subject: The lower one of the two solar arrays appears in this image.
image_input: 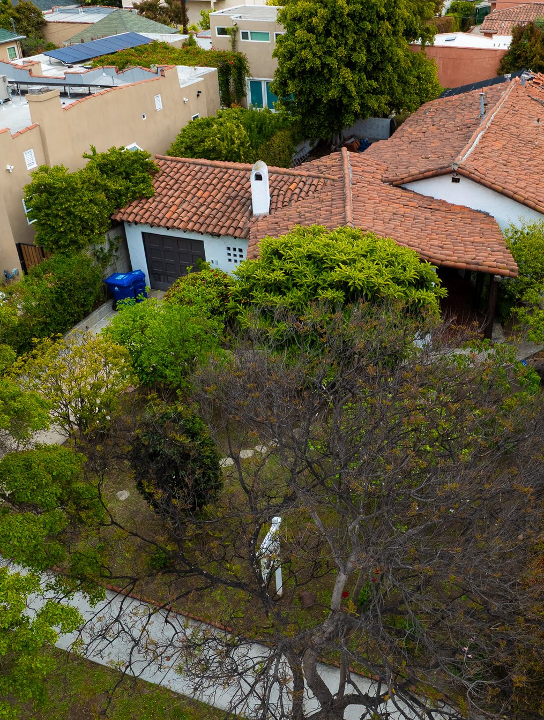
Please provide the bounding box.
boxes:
[12,80,116,100]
